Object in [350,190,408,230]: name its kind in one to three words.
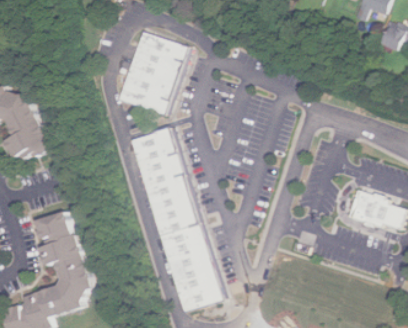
building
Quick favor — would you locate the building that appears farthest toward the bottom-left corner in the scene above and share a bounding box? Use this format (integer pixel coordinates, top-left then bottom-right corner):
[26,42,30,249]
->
[6,212,96,328]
